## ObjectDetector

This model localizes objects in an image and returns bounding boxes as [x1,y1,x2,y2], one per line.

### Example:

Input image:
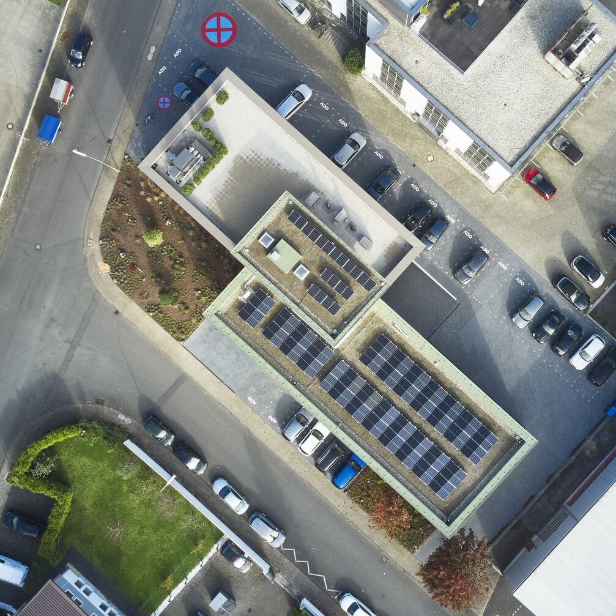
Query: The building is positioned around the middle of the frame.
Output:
[140,69,538,539]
